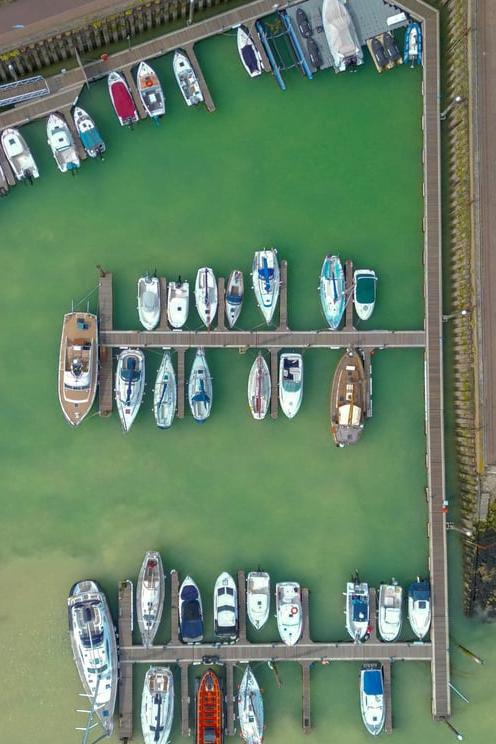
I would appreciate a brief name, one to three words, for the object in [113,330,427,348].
pier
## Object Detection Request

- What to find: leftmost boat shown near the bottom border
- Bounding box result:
[64,577,118,744]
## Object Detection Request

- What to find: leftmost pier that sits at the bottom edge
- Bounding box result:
[119,581,134,740]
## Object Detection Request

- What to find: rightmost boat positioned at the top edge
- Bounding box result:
[404,21,421,71]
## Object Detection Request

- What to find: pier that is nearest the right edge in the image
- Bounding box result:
[424,10,450,717]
